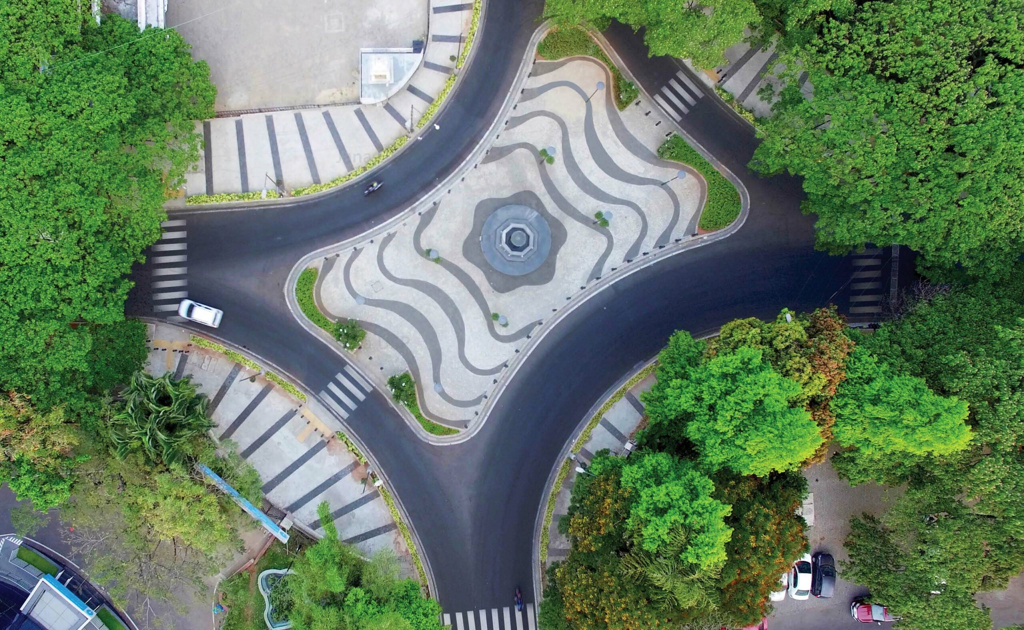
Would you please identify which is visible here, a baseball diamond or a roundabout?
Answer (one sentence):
It is a roundabout that can be seen here.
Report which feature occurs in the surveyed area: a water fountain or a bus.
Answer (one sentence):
Of the two, only a water fountain appears.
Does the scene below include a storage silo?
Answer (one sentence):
No, I can't see a single storage silo in this photo.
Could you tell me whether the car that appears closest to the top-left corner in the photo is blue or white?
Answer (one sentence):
From above, the car that appears closest to the top-left corner appears white.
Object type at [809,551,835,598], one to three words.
car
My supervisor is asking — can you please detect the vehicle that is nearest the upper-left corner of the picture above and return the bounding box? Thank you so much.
[178,300,224,328]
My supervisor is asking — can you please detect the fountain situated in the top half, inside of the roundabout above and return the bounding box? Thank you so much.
[480,204,552,275]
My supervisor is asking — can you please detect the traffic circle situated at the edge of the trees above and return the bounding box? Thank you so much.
[284,14,750,446]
